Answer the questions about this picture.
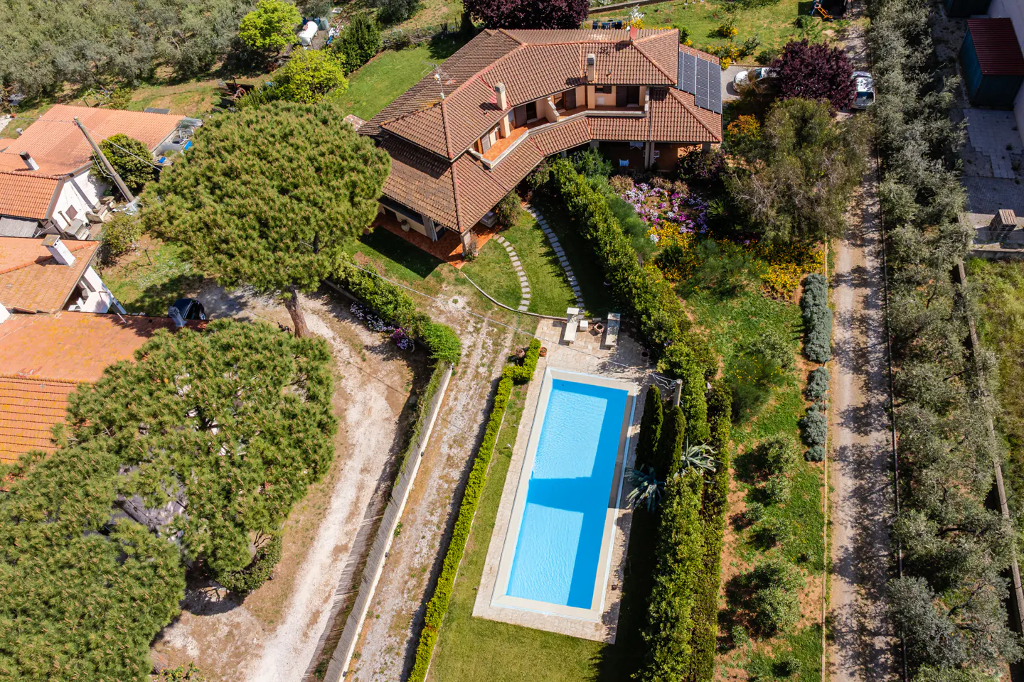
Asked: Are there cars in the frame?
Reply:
Yes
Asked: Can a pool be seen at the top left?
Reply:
No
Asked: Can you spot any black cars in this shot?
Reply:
Yes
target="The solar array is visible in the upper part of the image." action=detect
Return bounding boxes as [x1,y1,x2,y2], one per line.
[681,49,722,111]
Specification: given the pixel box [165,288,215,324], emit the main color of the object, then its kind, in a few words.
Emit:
black car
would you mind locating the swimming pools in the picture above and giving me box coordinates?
[488,366,643,624]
